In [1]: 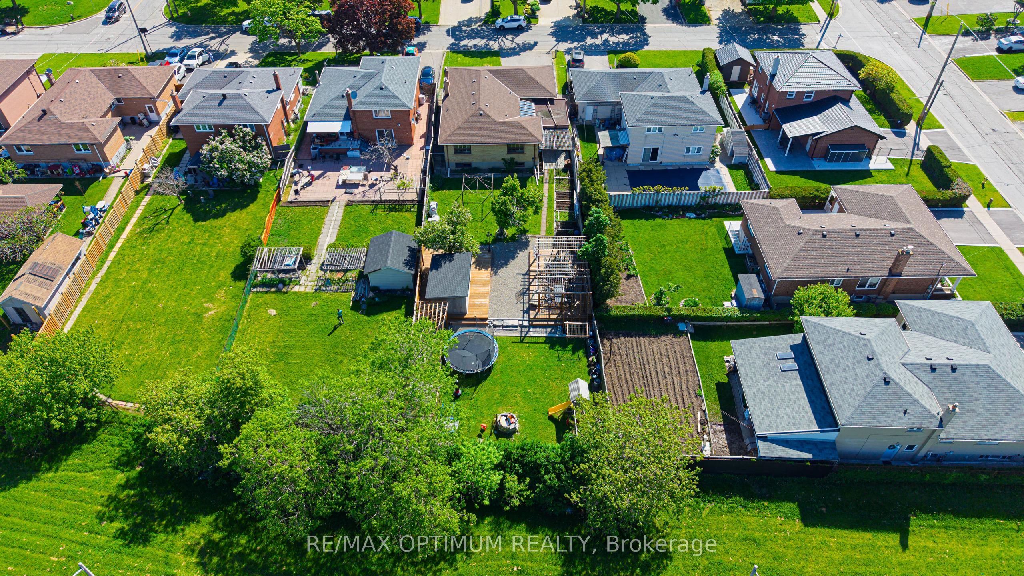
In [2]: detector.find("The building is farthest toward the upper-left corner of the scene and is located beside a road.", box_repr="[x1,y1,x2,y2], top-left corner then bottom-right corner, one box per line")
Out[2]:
[0,58,44,130]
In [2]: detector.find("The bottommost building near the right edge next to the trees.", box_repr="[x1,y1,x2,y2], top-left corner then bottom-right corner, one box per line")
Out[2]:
[727,299,1024,471]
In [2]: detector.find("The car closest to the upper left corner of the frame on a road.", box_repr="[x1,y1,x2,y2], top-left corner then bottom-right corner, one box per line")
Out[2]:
[99,0,131,22]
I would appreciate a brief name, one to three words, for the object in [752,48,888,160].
house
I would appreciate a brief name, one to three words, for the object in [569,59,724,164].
house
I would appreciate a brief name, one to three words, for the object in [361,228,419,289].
shed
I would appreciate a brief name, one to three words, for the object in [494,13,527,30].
car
